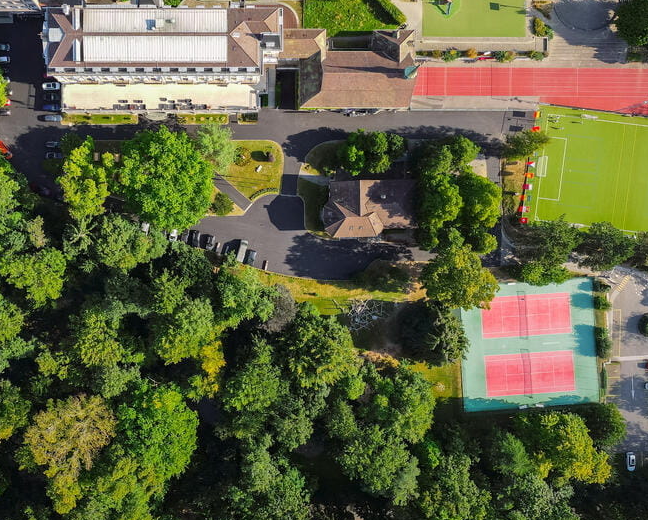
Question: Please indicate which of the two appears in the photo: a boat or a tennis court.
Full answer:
The image shows a tennis court.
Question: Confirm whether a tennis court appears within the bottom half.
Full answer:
Yes, I can see a tennis court within the bottom half.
